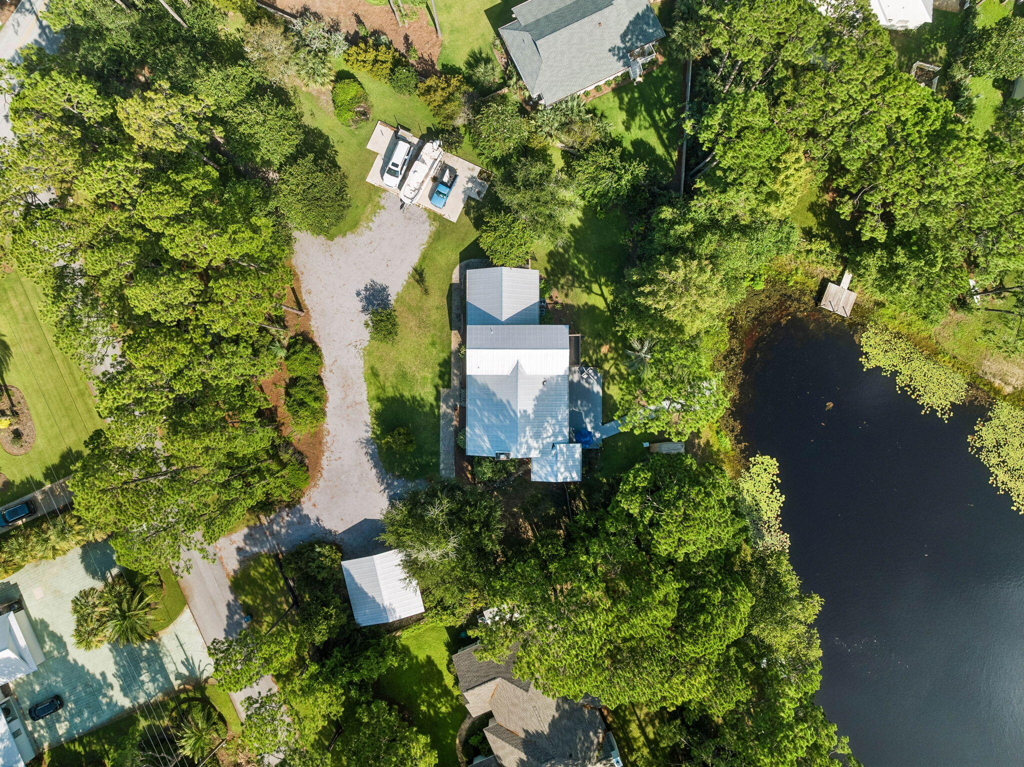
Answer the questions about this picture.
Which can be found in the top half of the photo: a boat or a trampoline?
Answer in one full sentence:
Visible in the top half of the photo is a boat.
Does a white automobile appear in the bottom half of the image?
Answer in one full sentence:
No, there is no white automobile in the bottom half of the image.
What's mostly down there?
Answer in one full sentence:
The largest share of the image is taken up by trees.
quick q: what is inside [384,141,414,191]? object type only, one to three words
car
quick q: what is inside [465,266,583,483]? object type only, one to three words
house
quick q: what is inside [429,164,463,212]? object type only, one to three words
truck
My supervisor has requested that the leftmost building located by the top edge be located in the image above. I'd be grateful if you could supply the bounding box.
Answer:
[498,0,666,107]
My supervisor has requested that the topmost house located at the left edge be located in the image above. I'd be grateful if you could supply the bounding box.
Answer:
[0,609,45,686]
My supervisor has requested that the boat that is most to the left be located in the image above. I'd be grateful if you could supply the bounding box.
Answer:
[401,137,443,204]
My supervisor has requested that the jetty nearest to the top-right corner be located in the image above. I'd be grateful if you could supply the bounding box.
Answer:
[818,269,857,317]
